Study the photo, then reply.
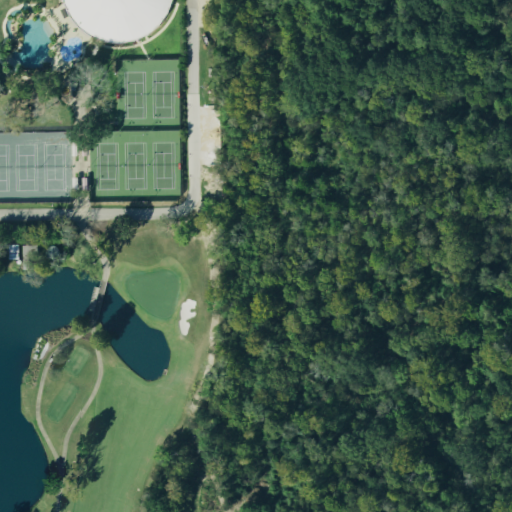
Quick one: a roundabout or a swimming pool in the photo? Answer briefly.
swimming pool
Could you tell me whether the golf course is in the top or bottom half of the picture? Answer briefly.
bottom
